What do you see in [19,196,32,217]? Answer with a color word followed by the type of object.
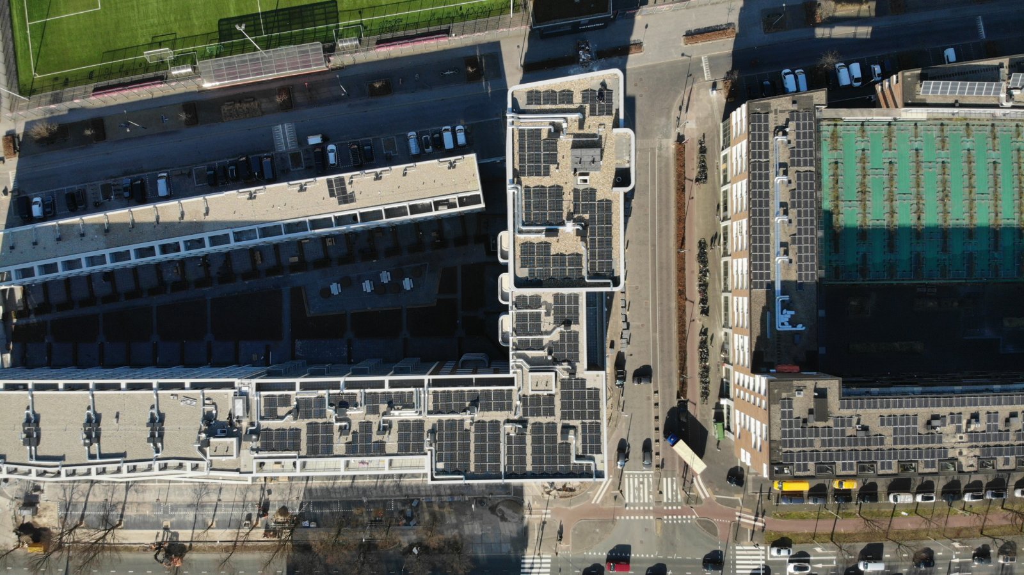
black vehicle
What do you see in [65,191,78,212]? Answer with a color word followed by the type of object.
black vehicle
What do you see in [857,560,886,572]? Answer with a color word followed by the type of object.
white vehicle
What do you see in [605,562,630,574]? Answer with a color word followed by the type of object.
red vehicle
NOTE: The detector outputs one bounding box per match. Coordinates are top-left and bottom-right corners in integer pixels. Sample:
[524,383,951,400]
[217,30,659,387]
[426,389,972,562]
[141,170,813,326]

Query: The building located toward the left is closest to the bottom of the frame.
[11,508,37,522]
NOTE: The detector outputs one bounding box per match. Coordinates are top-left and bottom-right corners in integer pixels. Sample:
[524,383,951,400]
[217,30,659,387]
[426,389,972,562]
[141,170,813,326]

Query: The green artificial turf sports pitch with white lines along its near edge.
[11,0,511,99]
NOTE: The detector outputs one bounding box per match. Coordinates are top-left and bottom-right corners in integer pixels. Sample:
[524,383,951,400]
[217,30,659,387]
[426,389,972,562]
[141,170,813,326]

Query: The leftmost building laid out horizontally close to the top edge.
[529,0,612,39]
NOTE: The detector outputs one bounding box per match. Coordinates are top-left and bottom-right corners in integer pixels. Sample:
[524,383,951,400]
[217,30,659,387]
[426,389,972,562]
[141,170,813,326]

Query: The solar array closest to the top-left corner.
[327,178,353,204]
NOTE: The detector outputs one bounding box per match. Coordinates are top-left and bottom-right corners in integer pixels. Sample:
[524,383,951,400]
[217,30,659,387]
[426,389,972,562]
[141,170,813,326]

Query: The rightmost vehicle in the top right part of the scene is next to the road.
[942,48,956,64]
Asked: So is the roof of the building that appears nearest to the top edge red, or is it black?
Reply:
black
